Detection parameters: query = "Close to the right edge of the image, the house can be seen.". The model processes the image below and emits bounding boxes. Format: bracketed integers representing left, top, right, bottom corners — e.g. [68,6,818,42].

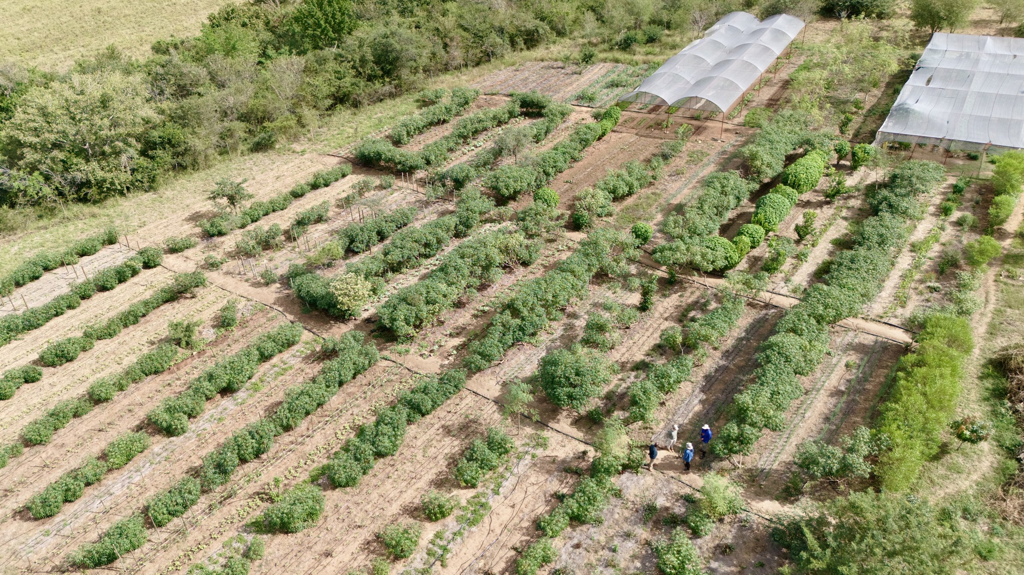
[868,33,1024,174]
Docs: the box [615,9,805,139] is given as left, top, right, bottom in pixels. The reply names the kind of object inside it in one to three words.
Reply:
house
